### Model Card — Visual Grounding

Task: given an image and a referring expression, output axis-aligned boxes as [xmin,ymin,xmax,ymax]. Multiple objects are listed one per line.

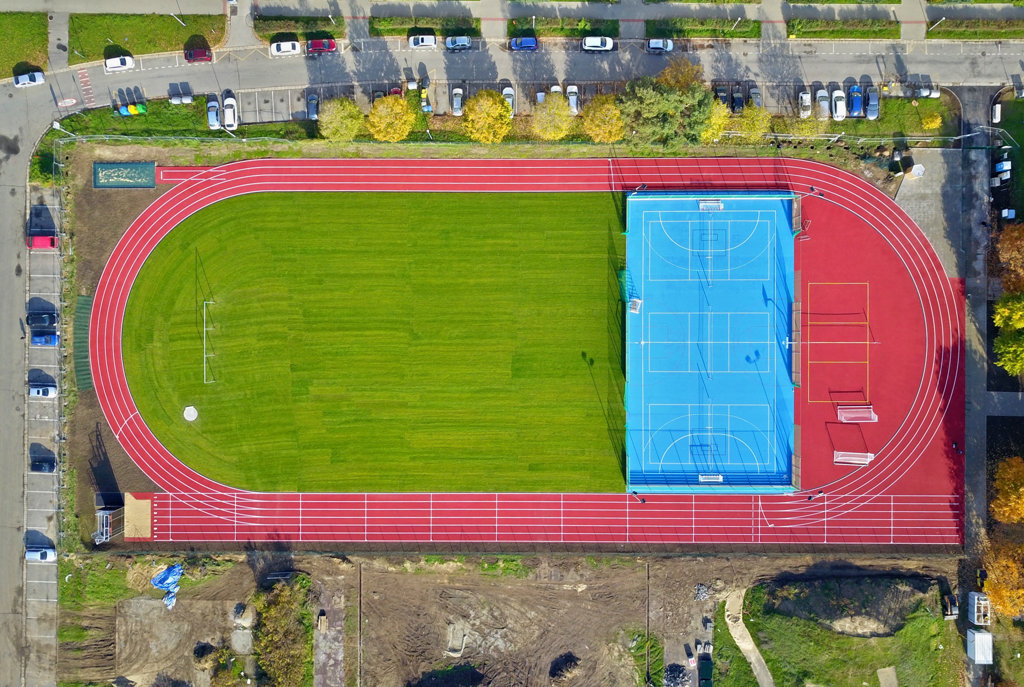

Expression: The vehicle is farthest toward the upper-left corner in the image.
[12,70,46,89]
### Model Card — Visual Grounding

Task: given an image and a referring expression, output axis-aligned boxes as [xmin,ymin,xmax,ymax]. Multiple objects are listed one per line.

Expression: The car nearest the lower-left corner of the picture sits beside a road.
[24,547,56,564]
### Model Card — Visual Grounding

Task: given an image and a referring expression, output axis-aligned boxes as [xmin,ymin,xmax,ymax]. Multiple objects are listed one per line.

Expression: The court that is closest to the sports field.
[626,190,795,494]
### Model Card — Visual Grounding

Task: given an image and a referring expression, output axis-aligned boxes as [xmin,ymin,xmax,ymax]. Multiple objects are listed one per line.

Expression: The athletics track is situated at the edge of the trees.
[88,157,965,546]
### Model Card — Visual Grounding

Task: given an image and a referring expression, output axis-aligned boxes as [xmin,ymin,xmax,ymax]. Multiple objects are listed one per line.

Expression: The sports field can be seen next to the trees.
[123,193,627,494]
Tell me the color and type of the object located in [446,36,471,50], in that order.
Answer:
blue car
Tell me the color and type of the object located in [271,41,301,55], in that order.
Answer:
white car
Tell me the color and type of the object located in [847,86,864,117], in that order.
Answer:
blue car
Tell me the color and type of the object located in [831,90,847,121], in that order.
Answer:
white car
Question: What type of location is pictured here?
sports ground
